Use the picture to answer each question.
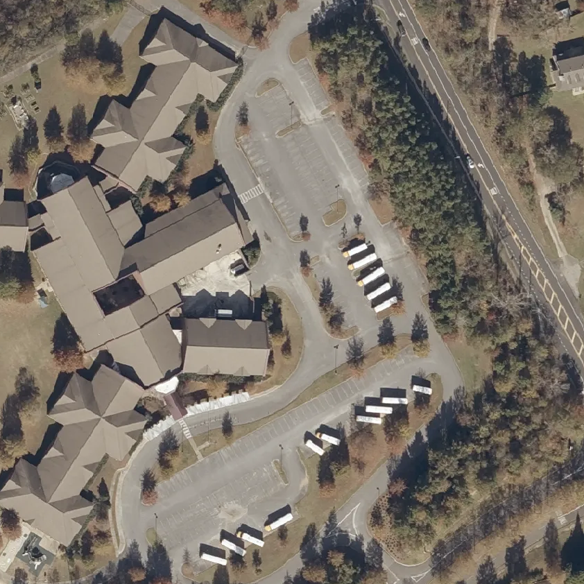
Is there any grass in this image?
Yes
